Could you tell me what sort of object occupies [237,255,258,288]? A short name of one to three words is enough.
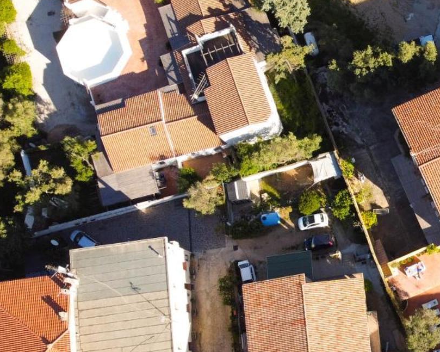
car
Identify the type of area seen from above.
residential area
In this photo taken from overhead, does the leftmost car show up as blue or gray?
blue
